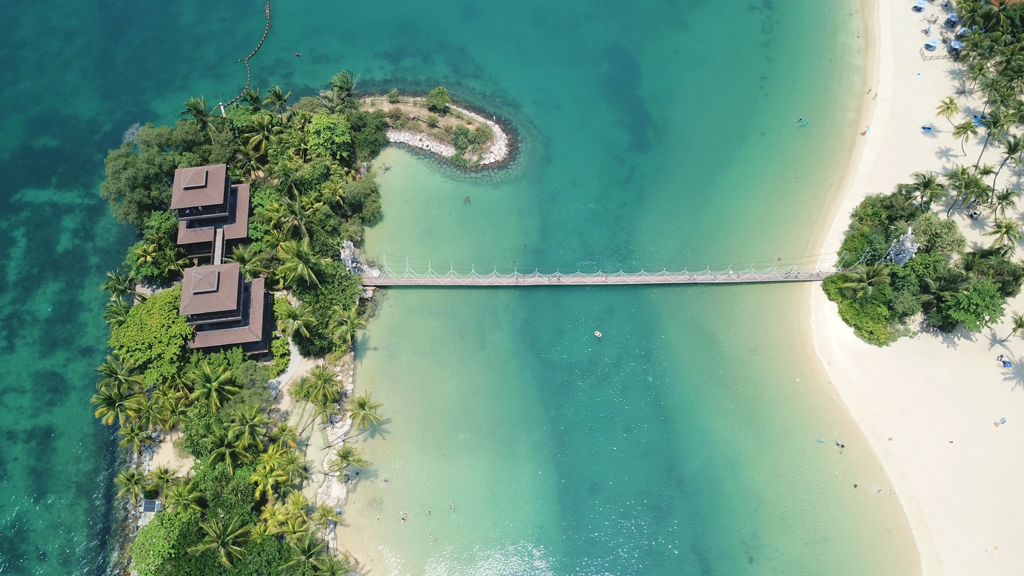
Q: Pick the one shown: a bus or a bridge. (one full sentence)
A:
I can see a bridge in this picture.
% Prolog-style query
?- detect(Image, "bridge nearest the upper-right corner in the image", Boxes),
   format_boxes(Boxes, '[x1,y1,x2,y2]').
[344,243,906,287]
